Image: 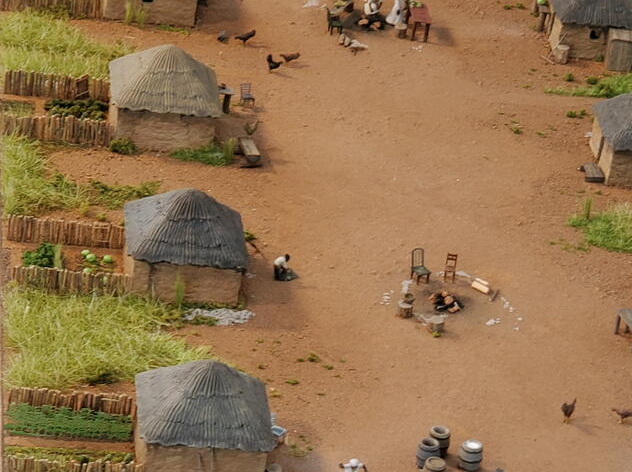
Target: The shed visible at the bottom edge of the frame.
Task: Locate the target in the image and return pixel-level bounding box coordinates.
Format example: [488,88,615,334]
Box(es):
[138,359,279,472]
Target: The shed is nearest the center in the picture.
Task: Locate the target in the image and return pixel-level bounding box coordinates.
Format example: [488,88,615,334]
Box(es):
[124,187,249,303]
